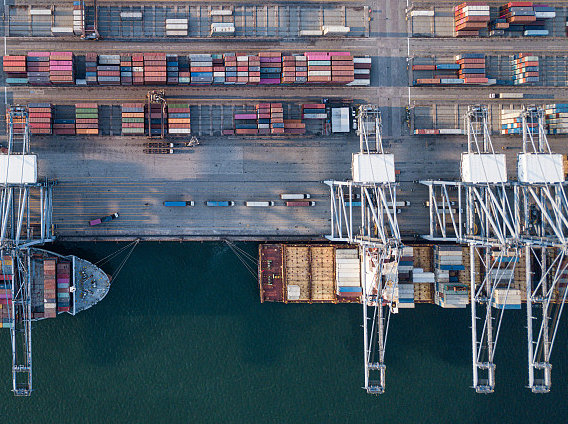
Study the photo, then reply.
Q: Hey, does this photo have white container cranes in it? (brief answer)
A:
Yes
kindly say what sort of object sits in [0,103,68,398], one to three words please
container crane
